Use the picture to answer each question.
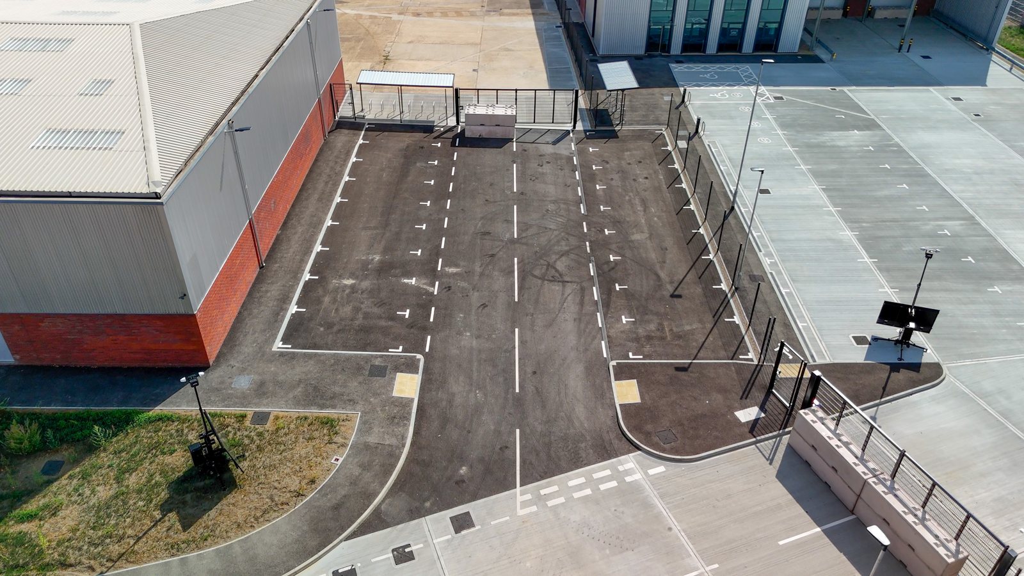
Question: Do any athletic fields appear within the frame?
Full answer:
No, the picture doesn't show any athletic field.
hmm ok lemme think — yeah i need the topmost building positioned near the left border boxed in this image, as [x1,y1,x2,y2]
[0,0,348,365]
